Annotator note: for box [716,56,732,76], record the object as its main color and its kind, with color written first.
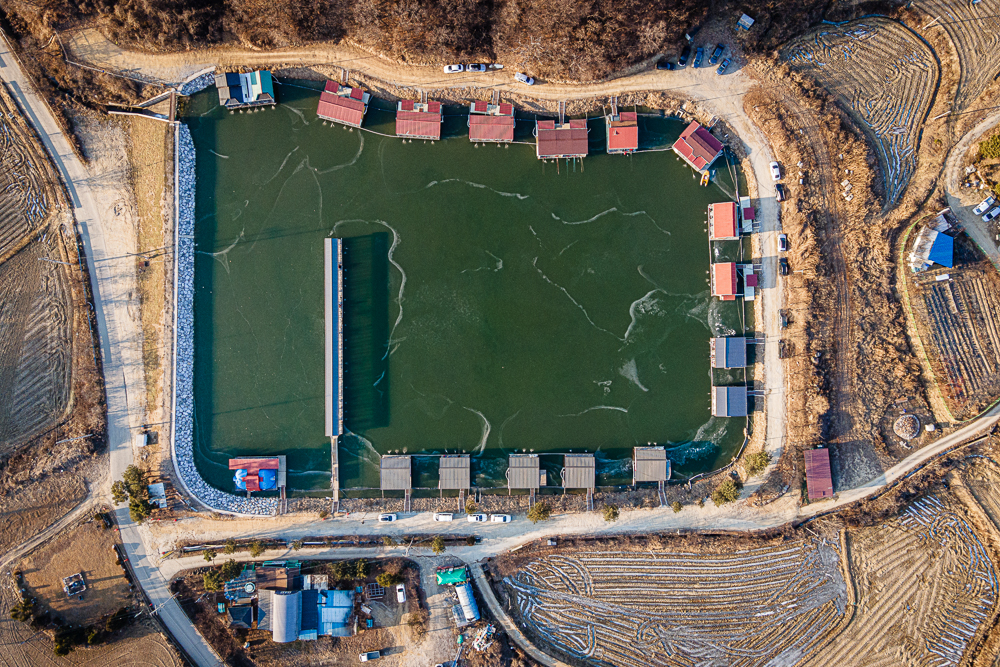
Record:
blue car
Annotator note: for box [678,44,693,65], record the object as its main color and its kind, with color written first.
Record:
black car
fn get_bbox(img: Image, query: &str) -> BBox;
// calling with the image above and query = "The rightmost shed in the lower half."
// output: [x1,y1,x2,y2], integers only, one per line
[798,446,833,498]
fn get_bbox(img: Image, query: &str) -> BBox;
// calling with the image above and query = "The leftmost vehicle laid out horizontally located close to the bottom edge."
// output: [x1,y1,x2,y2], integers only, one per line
[357,650,380,664]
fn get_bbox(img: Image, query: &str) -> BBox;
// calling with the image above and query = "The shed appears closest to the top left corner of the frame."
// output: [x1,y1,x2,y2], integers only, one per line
[219,74,280,113]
